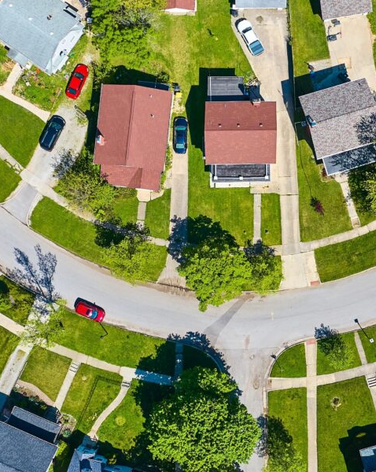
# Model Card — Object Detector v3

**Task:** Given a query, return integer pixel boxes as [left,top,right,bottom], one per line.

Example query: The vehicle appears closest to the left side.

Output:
[39,114,65,151]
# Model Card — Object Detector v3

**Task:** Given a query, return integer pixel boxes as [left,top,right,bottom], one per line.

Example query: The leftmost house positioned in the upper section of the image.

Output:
[0,0,86,72]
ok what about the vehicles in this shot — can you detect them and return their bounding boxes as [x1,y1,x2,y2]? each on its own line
[39,114,65,151]
[235,17,266,58]
[64,64,88,100]
[73,299,107,321]
[172,117,189,153]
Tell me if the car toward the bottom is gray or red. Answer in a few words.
red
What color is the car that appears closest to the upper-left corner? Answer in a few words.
red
